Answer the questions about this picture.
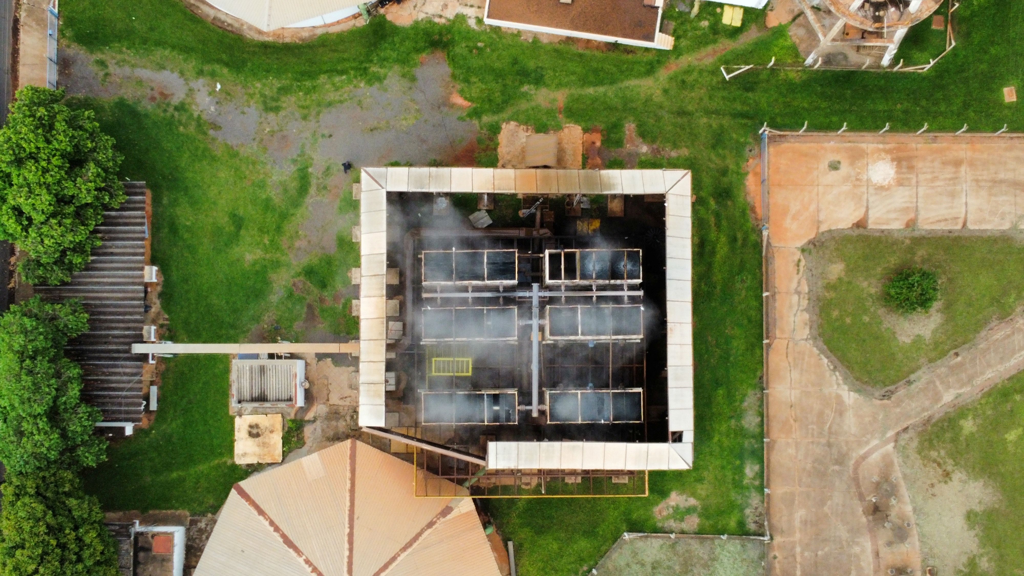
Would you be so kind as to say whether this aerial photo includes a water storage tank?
Yes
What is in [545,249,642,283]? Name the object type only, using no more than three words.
water tank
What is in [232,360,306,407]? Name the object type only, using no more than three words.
shed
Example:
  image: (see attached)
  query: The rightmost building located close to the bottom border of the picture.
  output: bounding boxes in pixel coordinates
[193,440,500,576]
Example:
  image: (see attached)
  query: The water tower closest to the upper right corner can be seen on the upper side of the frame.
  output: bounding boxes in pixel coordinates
[798,0,947,69]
